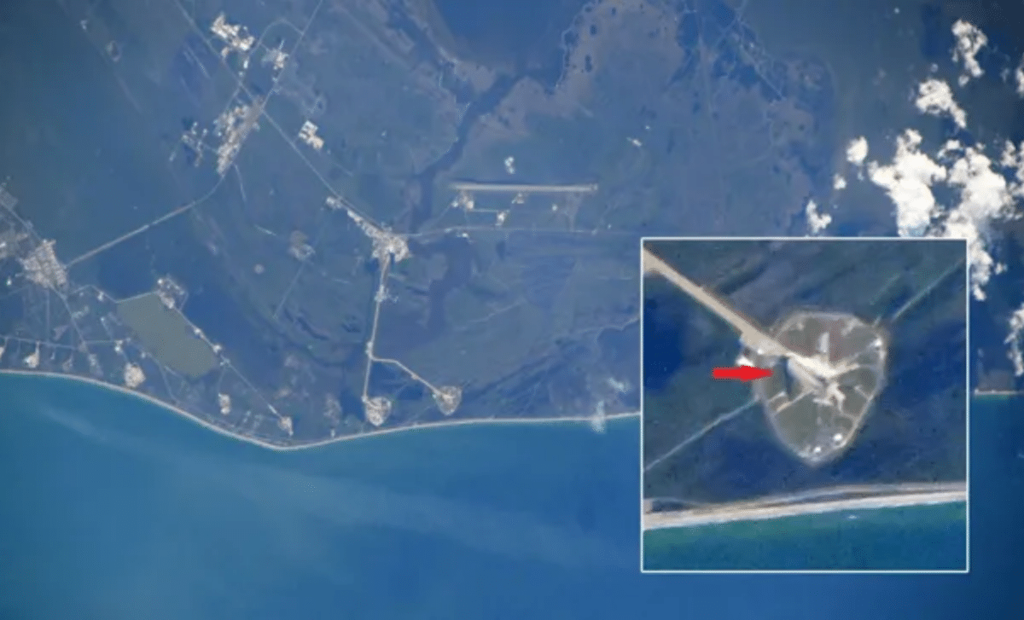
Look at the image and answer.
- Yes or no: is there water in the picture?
Yes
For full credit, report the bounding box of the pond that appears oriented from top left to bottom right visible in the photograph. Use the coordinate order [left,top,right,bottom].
[114,290,219,379]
